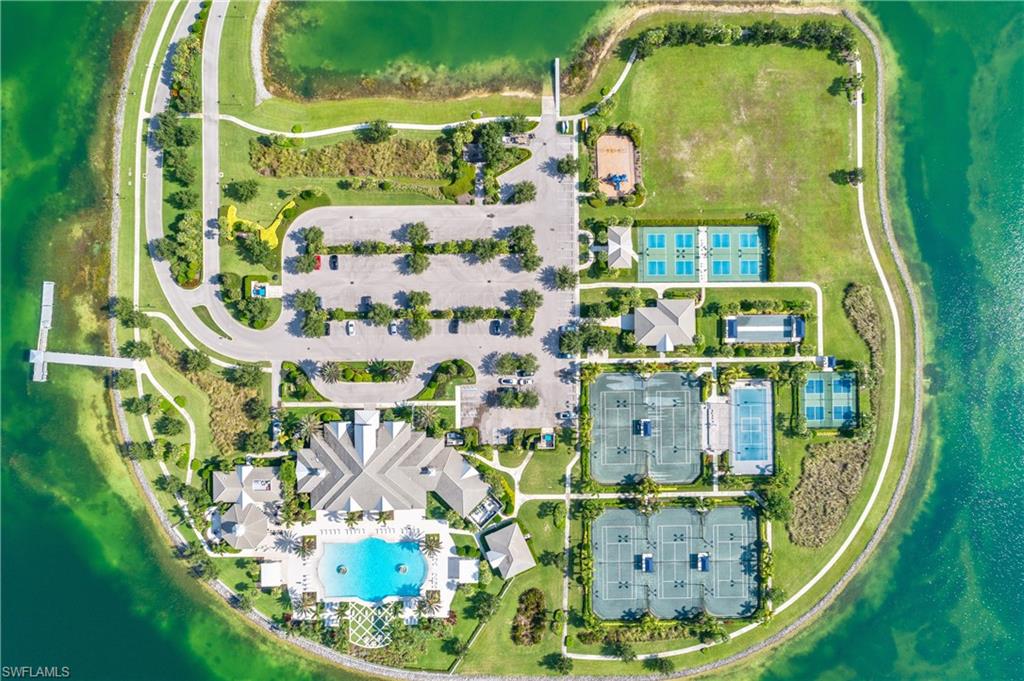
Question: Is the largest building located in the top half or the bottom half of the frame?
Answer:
bottom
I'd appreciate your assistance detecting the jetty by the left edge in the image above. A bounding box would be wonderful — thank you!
[30,282,134,382]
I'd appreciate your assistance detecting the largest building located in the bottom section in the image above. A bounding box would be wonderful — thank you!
[296,409,490,518]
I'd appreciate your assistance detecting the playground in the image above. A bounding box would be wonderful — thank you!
[597,135,636,196]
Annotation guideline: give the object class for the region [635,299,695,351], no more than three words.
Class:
building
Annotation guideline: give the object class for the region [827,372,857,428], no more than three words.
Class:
sports court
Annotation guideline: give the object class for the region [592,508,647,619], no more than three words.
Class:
tennis court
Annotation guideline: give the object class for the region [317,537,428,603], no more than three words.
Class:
swimming pool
